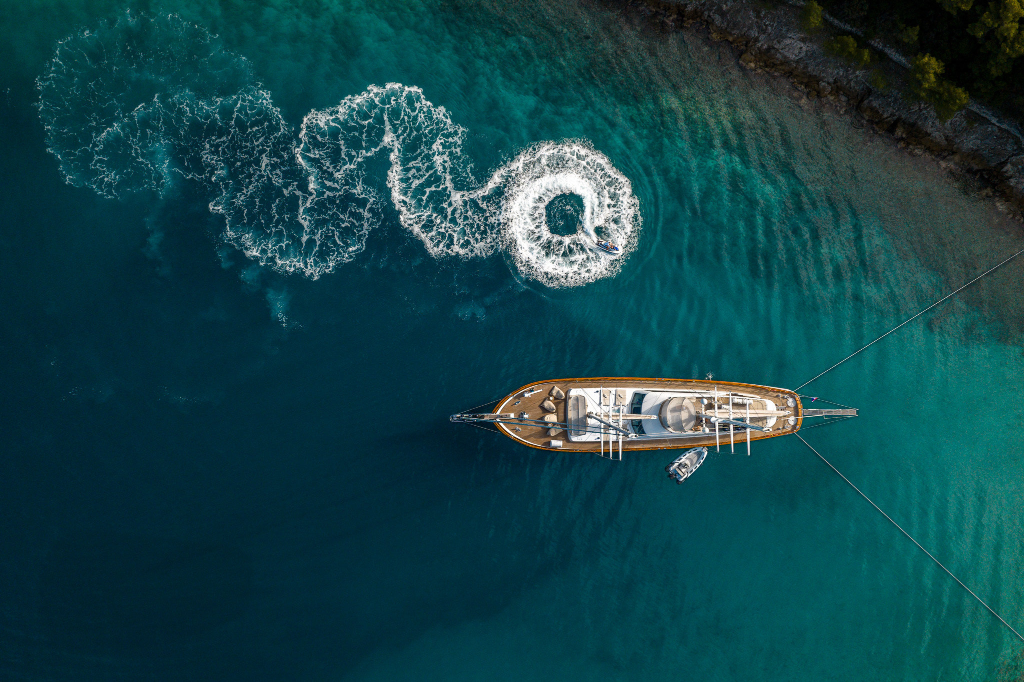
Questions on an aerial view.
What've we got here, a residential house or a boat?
boat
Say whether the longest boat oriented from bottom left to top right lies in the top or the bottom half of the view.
bottom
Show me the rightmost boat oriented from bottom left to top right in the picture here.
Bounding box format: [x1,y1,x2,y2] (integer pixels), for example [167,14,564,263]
[666,448,716,486]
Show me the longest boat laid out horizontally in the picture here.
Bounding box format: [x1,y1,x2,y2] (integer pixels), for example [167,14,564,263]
[450,377,858,461]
